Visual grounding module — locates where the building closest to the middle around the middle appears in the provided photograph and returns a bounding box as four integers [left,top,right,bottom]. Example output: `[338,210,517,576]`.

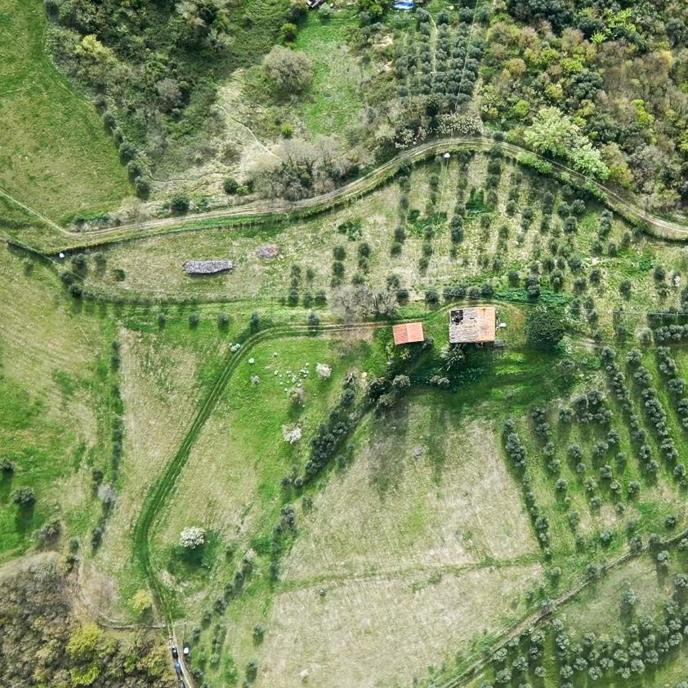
[393,319,424,345]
